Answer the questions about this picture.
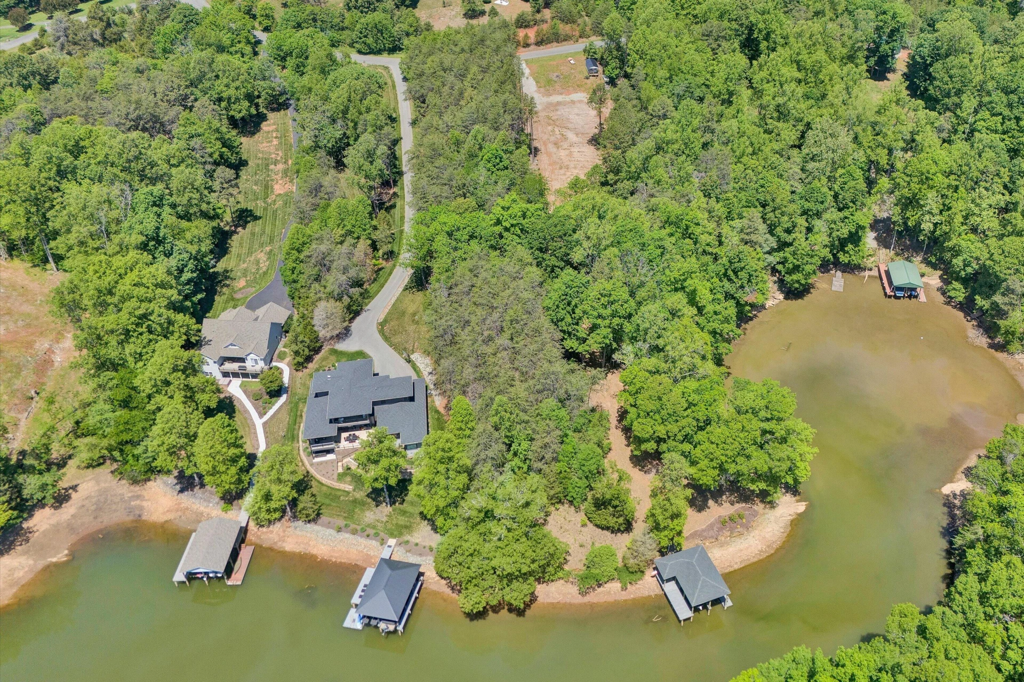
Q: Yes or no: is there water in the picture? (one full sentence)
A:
Yes, there is water in the image.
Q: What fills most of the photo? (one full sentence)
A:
The bulk of the photo consists of trees.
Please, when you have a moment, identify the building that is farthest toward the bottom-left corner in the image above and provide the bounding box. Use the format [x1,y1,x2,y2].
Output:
[174,513,253,587]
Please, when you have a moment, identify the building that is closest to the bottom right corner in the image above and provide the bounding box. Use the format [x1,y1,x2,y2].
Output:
[651,545,733,625]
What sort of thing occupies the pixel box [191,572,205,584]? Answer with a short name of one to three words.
boat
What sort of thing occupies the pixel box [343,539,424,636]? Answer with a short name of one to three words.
building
